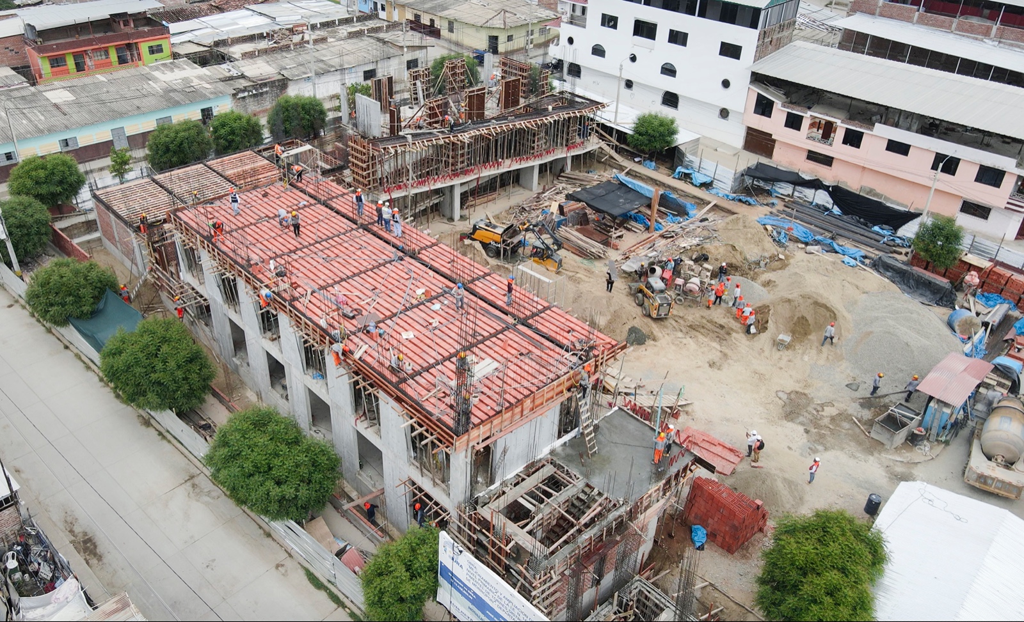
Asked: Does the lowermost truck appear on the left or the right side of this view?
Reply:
right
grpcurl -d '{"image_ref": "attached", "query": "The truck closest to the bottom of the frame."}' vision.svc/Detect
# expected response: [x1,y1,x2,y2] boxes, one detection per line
[964,388,1024,493]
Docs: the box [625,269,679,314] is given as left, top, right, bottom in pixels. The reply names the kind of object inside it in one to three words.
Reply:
work vehicle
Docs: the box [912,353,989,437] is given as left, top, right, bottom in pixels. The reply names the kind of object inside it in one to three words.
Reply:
shed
